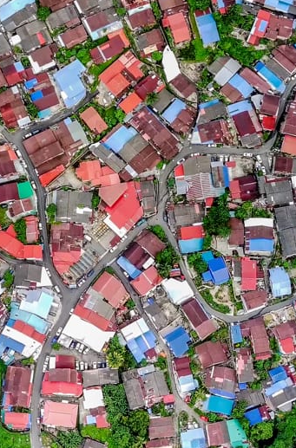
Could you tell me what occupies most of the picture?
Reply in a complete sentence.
For the most part, this view shows buildings.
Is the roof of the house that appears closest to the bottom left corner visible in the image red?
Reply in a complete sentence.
Yes, the roof of the house that appears closest to the bottom left corner is indeed red.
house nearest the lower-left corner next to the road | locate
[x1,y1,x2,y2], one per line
[2,409,33,431]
